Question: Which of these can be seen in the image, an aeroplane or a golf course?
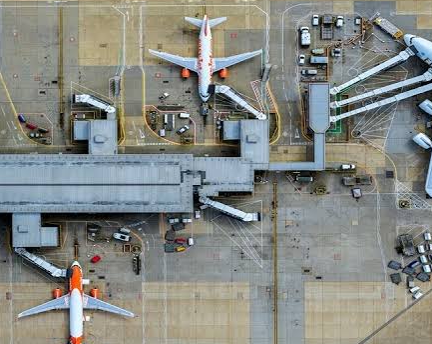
aeroplane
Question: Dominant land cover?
paved ground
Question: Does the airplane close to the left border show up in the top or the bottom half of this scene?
bottom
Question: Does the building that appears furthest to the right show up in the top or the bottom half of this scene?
top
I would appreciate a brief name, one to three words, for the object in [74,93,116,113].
jet bridge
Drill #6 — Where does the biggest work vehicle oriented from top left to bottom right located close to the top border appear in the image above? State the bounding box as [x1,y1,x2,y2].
[376,14,409,41]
